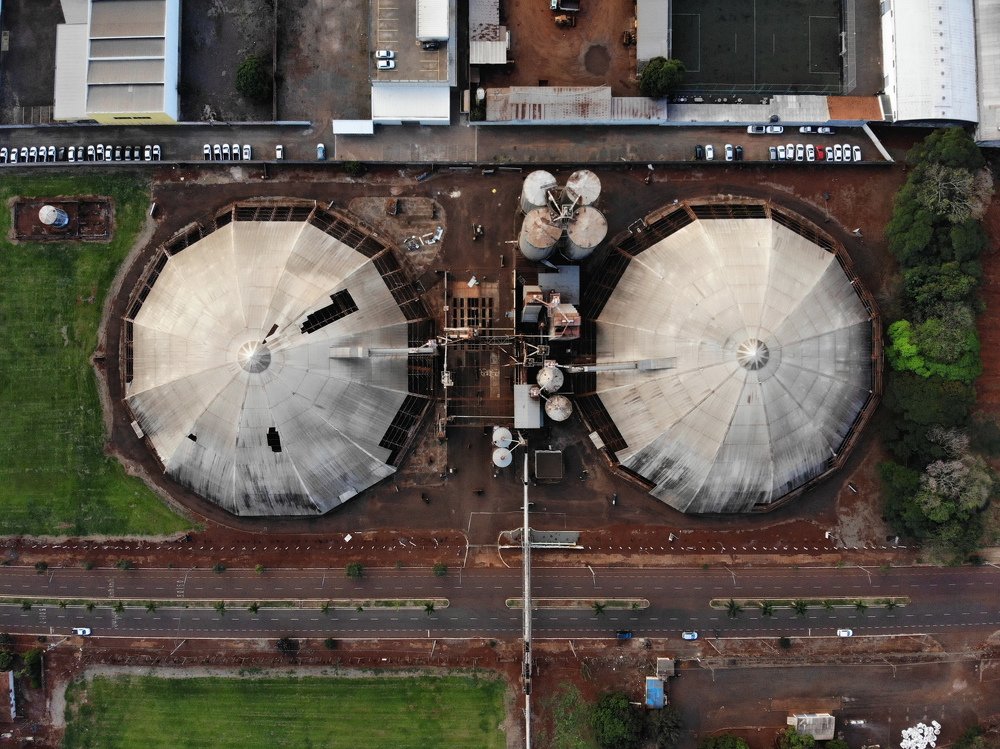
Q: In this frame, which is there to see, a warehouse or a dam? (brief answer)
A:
warehouse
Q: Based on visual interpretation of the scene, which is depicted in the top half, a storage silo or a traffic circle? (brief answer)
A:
storage silo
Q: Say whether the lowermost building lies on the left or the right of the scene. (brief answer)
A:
right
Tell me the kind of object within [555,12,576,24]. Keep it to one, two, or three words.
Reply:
vehicle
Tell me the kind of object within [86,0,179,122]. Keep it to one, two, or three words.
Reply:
building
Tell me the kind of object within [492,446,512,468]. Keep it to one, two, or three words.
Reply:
silo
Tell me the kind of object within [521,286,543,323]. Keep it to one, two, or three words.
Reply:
house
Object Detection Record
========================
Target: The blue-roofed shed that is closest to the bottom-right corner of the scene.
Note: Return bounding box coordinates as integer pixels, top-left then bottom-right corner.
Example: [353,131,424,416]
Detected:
[644,674,667,708]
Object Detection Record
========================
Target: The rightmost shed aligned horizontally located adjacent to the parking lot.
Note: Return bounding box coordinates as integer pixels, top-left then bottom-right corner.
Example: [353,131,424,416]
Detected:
[486,85,611,120]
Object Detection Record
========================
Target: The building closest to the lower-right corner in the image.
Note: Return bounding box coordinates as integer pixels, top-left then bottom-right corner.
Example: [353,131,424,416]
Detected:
[783,710,835,739]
